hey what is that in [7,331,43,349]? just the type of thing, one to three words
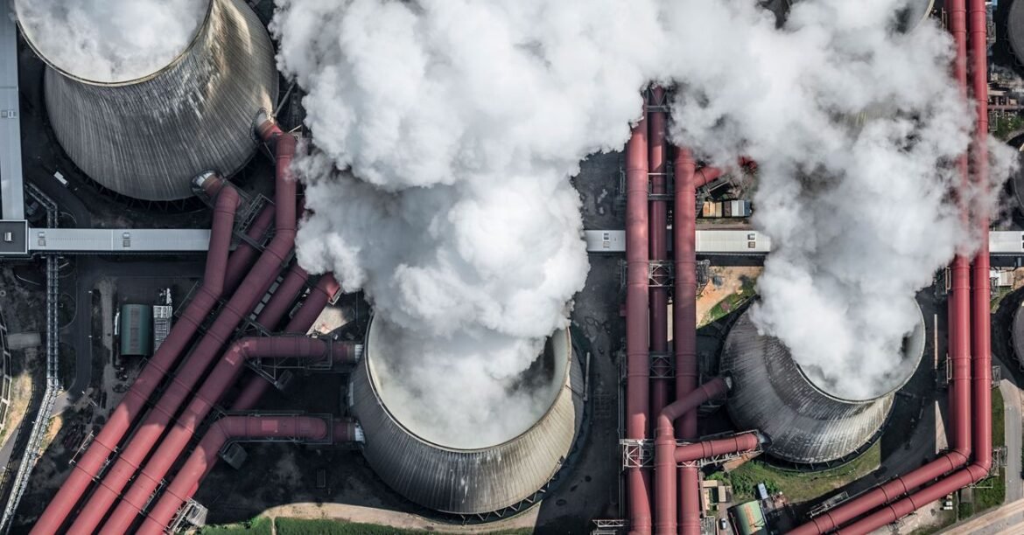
shed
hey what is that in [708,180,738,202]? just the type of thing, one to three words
house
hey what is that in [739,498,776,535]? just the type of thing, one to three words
hangar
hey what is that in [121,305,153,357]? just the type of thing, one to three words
hangar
